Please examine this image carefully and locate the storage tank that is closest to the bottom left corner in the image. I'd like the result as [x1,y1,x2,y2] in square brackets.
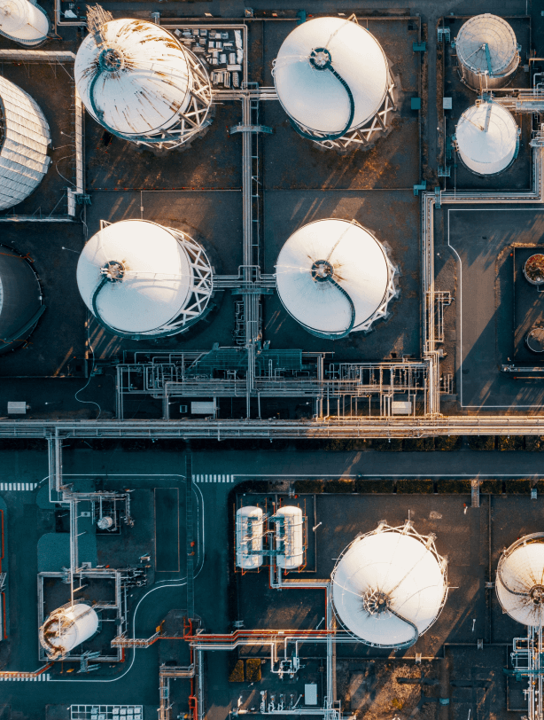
[33,602,101,658]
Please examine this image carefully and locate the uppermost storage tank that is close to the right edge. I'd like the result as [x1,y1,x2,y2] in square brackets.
[455,12,520,92]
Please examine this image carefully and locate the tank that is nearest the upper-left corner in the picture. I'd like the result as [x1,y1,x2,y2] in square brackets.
[0,0,53,51]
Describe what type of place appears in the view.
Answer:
industrial area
